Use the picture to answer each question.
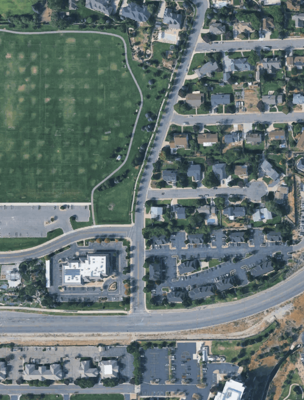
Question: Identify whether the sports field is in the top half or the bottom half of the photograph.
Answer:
top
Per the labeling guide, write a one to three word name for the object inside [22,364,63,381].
building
